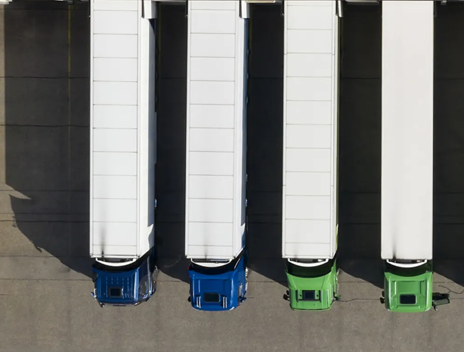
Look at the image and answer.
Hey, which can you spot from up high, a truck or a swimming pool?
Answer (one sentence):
There is a truck in the scene.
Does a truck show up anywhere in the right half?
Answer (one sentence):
Yes, in the right half there is a truck.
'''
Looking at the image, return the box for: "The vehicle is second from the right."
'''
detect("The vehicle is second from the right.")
[280,0,343,312]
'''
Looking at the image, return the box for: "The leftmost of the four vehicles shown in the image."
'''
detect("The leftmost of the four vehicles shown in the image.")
[86,0,161,310]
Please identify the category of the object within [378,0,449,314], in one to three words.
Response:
truck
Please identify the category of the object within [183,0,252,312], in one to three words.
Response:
truck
